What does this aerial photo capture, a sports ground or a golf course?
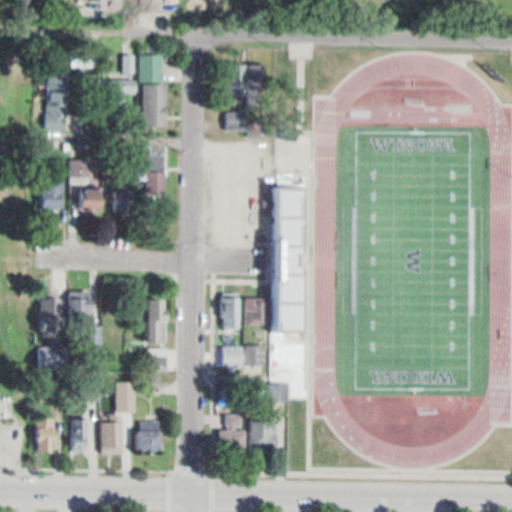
sports ground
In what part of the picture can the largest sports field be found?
right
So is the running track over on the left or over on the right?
right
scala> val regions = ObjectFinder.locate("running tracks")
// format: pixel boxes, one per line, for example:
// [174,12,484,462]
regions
[312,52,512,468]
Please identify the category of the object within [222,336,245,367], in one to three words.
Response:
building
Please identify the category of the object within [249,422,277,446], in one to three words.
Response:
house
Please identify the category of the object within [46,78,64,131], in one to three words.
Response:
house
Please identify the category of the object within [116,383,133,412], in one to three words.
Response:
building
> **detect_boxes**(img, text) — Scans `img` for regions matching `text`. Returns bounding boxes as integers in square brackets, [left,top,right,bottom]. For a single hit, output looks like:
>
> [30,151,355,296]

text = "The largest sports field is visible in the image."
[336,127,490,395]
